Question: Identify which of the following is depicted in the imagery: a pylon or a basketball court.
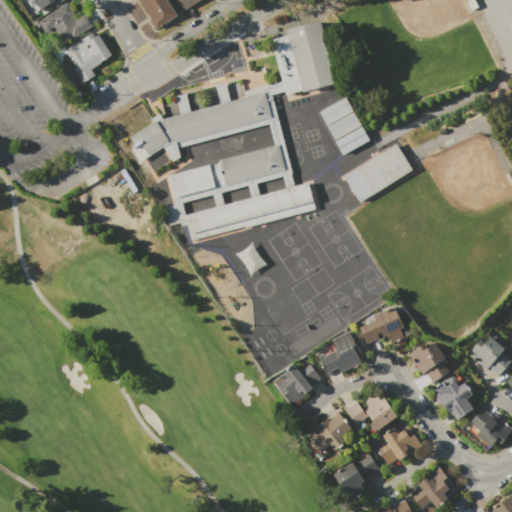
basketball court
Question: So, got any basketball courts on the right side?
Yes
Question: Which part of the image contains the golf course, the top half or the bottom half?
bottom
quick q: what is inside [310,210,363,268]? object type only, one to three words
basketball court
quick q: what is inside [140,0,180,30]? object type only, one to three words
house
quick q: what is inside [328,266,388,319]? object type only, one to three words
basketball court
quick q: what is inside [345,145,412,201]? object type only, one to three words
building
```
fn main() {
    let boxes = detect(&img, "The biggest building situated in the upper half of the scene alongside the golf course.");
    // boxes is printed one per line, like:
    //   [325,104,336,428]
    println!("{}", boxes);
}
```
[128,83,316,243]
